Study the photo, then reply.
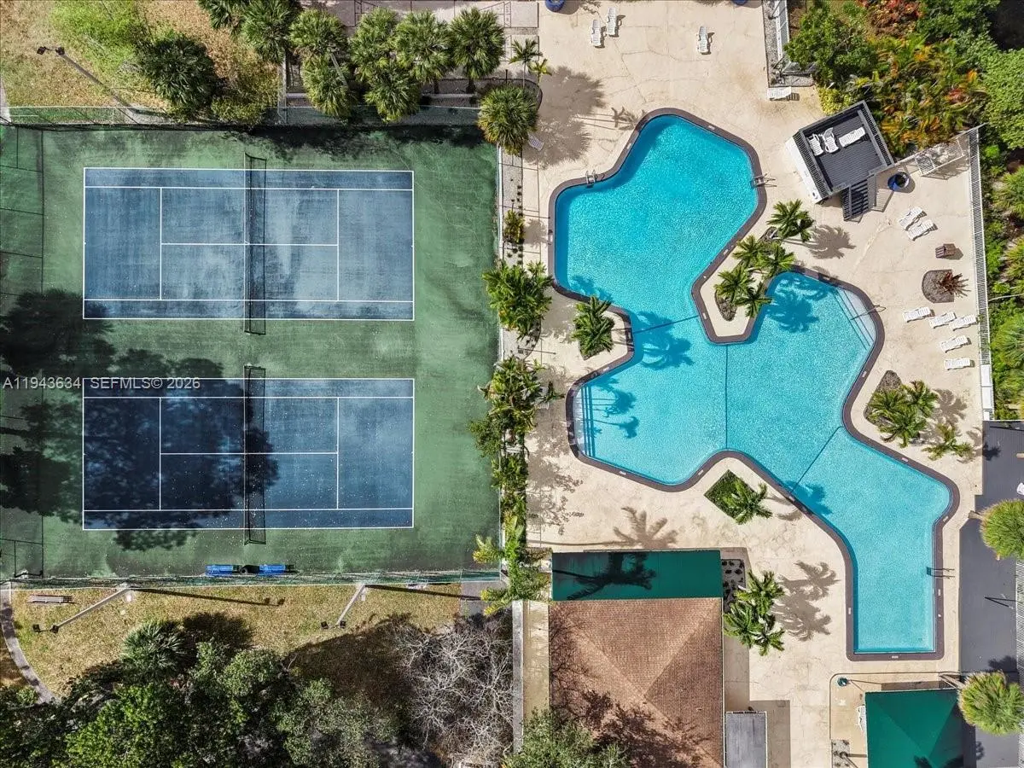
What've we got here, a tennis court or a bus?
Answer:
tennis court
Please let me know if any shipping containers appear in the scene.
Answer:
No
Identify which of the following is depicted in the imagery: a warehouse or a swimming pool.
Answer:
swimming pool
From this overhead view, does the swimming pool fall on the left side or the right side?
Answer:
right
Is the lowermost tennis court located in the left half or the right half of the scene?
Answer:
left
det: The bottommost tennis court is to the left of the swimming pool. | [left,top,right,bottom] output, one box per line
[82,364,414,547]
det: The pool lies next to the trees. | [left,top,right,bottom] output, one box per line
[547,108,958,662]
